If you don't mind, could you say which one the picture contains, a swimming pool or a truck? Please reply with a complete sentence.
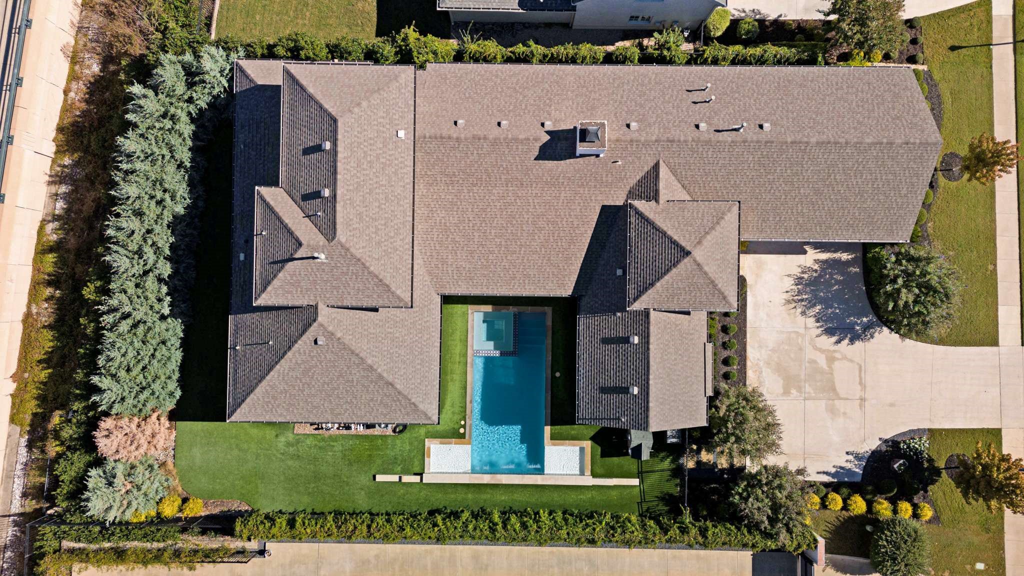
The image shows a swimming pool.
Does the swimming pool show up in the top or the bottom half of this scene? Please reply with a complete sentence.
The swimming pool is in the bottom half of the image.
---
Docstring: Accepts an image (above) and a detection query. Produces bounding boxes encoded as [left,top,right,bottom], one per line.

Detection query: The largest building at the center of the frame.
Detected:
[225,57,942,431]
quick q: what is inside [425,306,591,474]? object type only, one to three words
swimming pool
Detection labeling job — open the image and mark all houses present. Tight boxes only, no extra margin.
[225,57,942,431]
[436,0,724,29]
